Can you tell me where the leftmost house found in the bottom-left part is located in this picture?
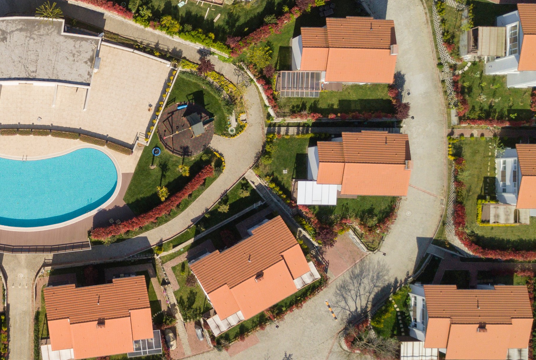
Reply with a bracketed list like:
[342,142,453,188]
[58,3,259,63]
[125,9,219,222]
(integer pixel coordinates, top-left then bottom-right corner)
[44,266,153,357]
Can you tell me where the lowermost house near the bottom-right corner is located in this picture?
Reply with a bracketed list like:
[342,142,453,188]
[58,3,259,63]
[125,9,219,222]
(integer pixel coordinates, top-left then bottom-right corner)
[408,274,534,358]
